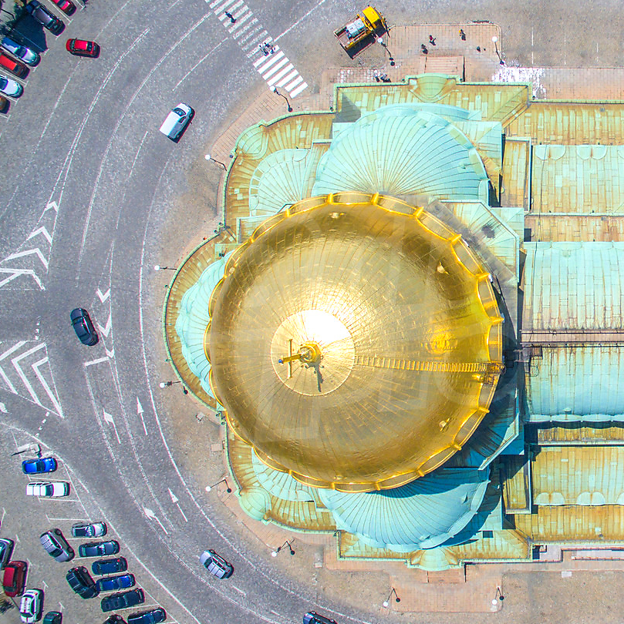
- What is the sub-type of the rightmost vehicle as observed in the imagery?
truck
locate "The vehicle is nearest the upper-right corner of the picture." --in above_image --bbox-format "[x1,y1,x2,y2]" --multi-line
[335,3,390,53]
